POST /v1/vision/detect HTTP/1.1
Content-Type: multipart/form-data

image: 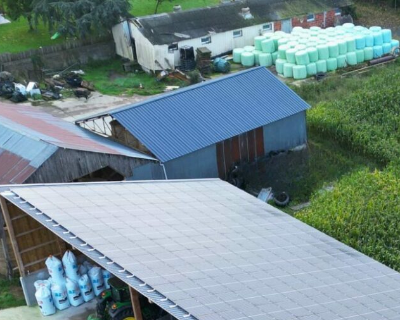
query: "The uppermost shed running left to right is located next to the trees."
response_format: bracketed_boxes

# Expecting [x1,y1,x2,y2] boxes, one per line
[113,0,361,72]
